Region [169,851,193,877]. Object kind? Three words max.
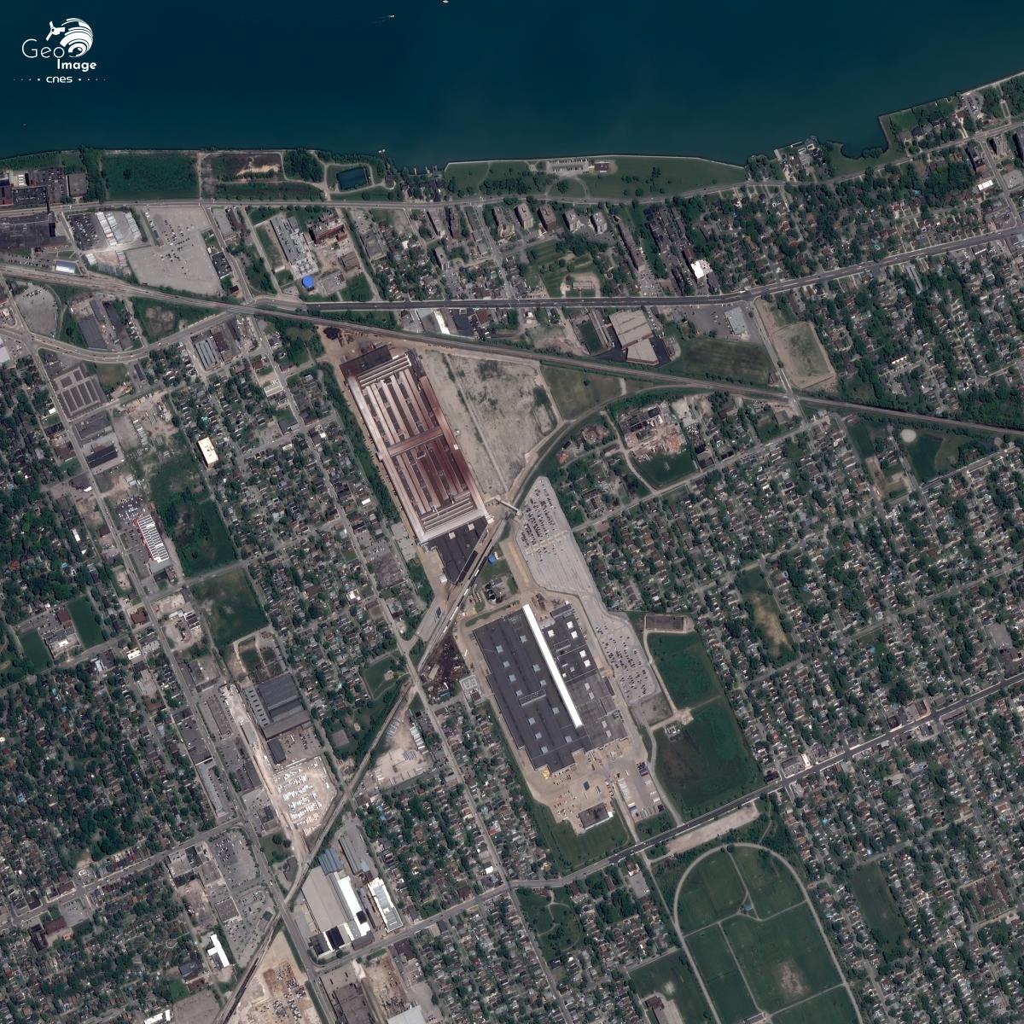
building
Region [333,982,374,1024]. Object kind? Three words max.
building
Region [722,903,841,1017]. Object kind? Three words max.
sports field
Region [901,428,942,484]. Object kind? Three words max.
baseball field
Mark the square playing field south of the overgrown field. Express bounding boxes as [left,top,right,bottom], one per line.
[194,570,263,646]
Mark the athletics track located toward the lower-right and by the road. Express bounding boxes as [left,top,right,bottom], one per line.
[674,843,862,1024]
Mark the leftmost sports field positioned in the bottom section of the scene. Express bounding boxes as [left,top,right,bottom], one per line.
[19,630,52,669]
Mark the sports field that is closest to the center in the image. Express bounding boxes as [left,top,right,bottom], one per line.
[637,447,697,487]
